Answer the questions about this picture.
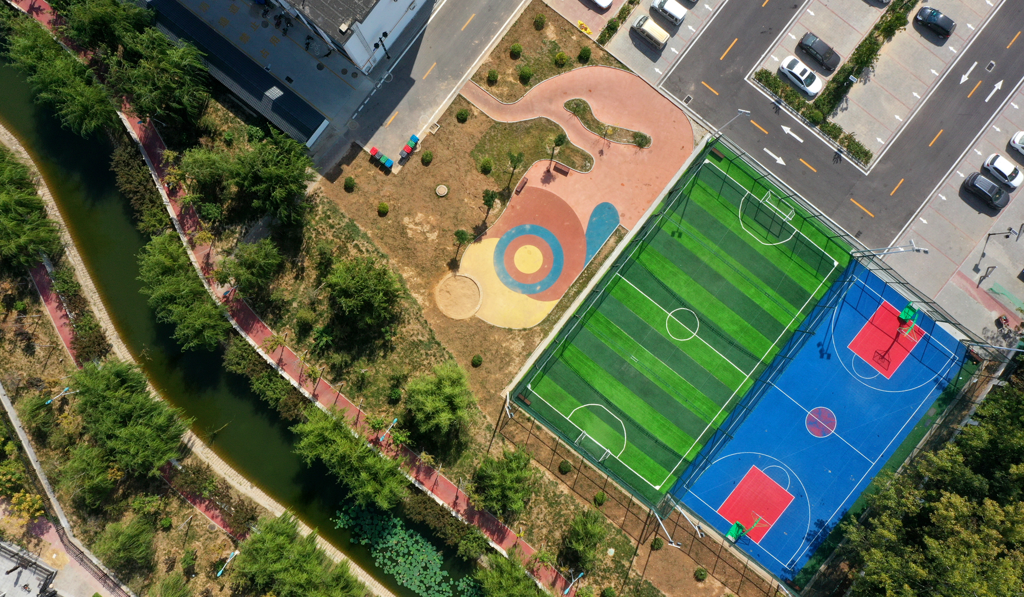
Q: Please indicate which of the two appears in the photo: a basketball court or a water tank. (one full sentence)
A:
Looking from above, you can make out a basketball court.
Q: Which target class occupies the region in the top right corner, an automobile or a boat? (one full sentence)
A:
What appears in the top right corner is an automobile.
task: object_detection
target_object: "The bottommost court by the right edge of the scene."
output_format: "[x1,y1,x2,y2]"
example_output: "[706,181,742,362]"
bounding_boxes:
[661,259,980,593]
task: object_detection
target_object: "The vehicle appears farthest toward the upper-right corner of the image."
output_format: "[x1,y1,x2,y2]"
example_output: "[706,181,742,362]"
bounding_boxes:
[912,3,959,43]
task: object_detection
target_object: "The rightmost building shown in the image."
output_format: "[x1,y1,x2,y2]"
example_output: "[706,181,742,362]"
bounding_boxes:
[263,0,427,80]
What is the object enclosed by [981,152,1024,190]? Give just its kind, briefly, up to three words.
car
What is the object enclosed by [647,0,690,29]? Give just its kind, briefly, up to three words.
car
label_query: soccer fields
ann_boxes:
[510,138,856,507]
